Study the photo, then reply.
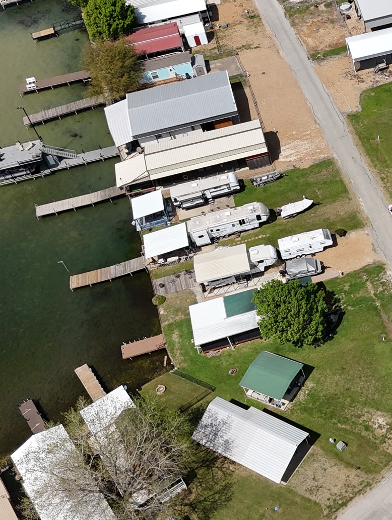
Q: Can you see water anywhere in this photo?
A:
Yes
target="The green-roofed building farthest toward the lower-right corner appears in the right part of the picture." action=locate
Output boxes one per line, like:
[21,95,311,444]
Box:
[241,351,306,410]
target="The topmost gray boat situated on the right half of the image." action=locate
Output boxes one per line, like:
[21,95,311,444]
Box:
[250,172,279,185]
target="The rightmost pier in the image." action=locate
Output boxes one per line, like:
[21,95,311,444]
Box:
[122,333,165,362]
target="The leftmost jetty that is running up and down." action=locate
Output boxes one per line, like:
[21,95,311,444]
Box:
[21,397,43,438]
